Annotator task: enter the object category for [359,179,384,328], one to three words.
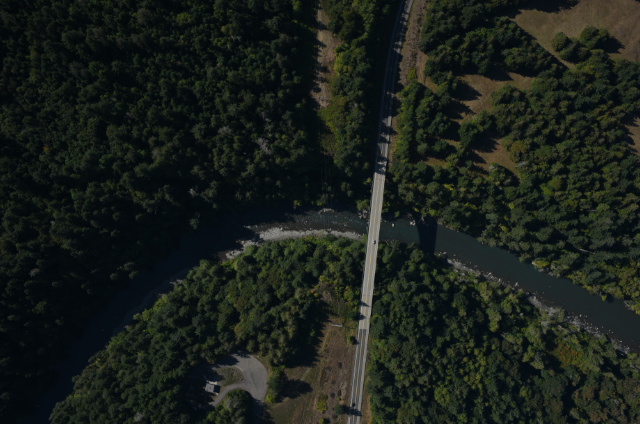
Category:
bridge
